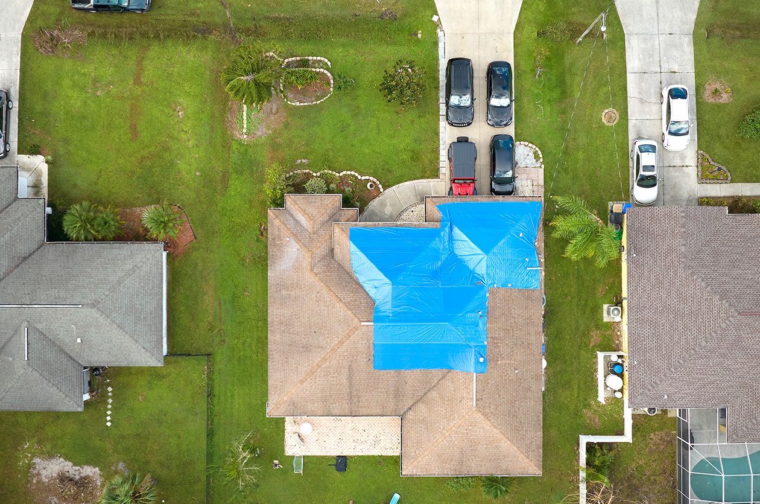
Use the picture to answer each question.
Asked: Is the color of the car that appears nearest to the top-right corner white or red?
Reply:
white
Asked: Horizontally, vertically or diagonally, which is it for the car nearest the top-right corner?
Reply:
vertically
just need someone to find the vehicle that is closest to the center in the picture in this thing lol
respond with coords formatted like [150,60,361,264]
[448,134,477,194]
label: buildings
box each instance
[620,205,760,443]
[0,164,170,411]
[266,191,544,478]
